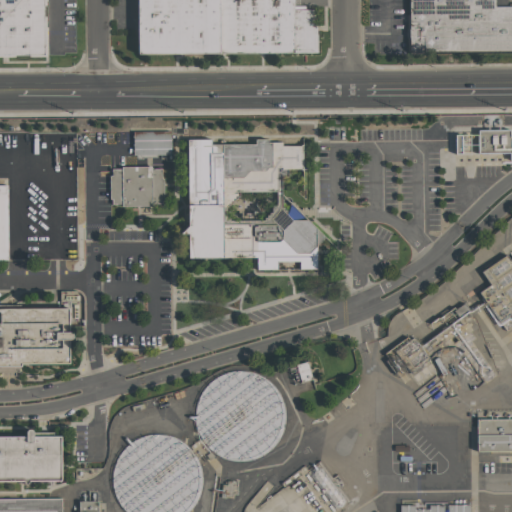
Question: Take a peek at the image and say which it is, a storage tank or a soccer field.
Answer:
storage tank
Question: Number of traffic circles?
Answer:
0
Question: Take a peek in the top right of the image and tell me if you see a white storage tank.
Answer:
No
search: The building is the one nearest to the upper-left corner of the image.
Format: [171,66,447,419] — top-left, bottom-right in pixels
[0,0,48,58]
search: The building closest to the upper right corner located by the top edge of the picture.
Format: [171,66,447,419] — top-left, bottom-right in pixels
[411,0,512,52]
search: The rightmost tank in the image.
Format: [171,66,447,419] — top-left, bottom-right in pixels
[193,369,287,463]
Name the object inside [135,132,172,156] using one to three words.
shed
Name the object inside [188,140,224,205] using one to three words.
building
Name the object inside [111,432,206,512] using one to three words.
storage tank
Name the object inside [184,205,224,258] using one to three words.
building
